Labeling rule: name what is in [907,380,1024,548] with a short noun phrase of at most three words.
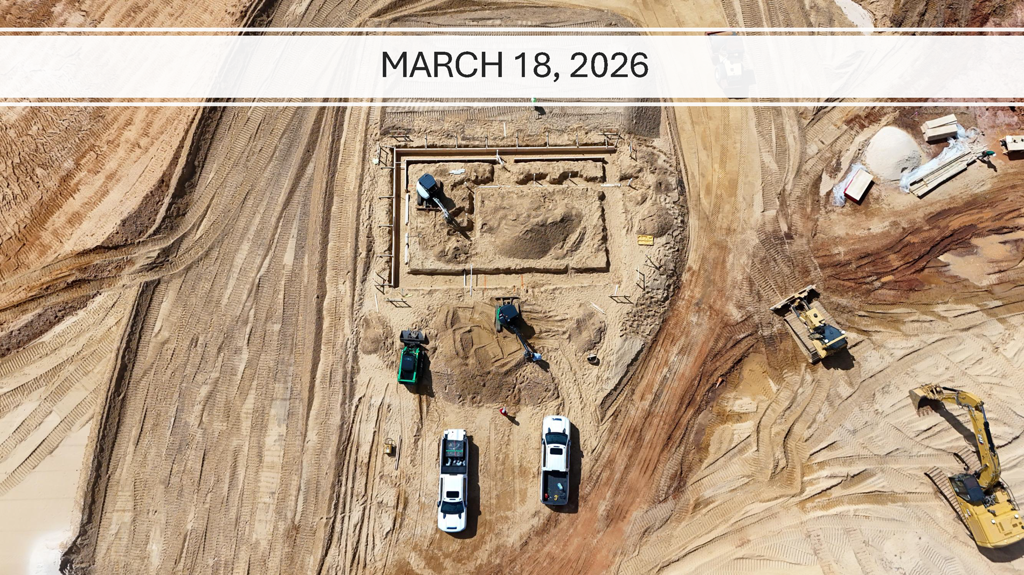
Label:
work vehicle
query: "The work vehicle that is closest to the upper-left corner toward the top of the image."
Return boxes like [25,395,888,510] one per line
[413,170,454,227]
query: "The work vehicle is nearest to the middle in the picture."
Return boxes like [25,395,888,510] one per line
[493,297,532,358]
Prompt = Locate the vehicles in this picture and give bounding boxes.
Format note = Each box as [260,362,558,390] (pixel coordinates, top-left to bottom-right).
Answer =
[433,430,469,533]
[907,380,1024,548]
[493,297,532,358]
[540,417,574,513]
[396,335,428,387]
[413,170,454,227]
[770,284,850,363]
